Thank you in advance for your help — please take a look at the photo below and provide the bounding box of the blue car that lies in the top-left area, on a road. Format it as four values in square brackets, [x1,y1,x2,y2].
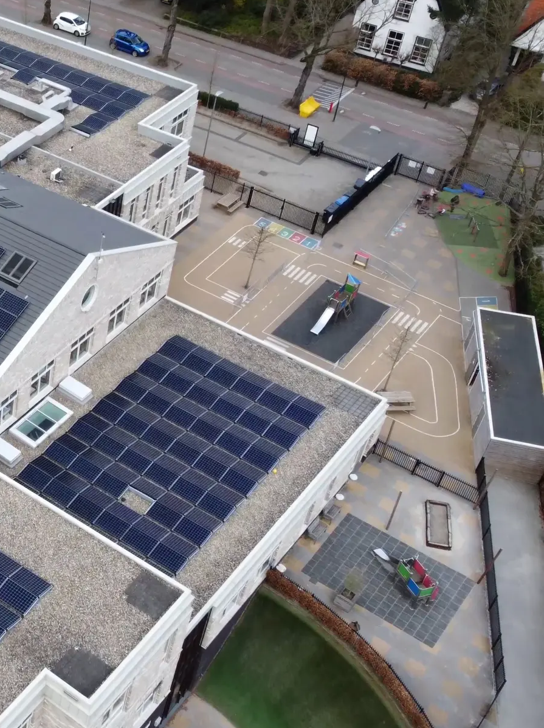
[114,29,154,56]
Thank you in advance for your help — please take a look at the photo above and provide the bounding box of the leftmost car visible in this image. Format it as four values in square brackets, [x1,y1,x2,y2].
[55,9,92,34]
